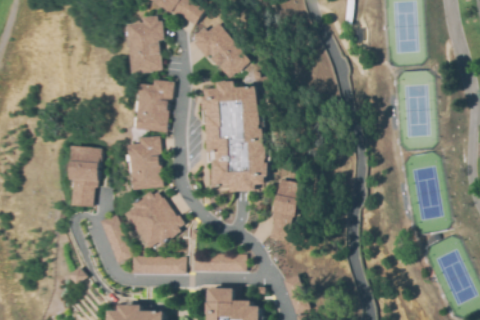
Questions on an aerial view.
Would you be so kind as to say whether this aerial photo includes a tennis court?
Yes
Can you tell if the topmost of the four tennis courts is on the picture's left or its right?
right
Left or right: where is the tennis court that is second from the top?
right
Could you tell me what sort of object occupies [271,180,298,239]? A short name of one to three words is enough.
house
